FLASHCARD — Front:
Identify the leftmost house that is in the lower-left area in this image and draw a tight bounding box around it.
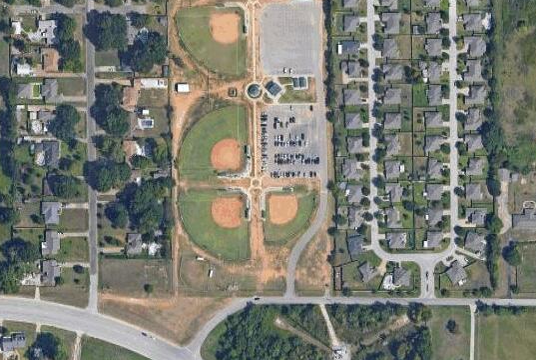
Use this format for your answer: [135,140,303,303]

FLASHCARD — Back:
[2,335,22,350]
